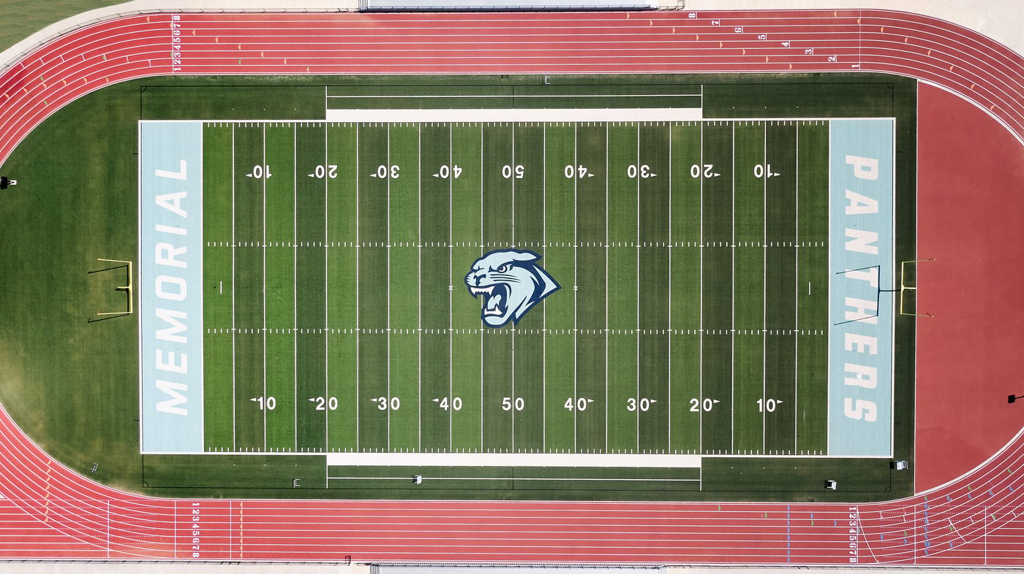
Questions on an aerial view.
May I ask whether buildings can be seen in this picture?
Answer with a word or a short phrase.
No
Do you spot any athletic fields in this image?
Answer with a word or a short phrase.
Yes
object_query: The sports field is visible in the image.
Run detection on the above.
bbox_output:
[134,82,900,493]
